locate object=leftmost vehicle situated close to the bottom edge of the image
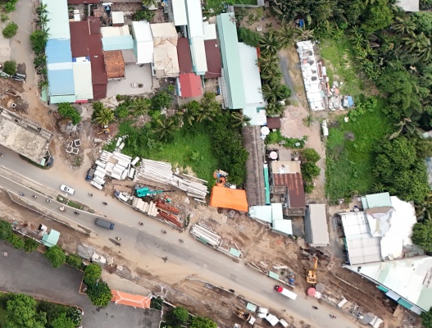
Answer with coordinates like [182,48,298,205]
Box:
[234,304,256,324]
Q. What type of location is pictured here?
residential area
